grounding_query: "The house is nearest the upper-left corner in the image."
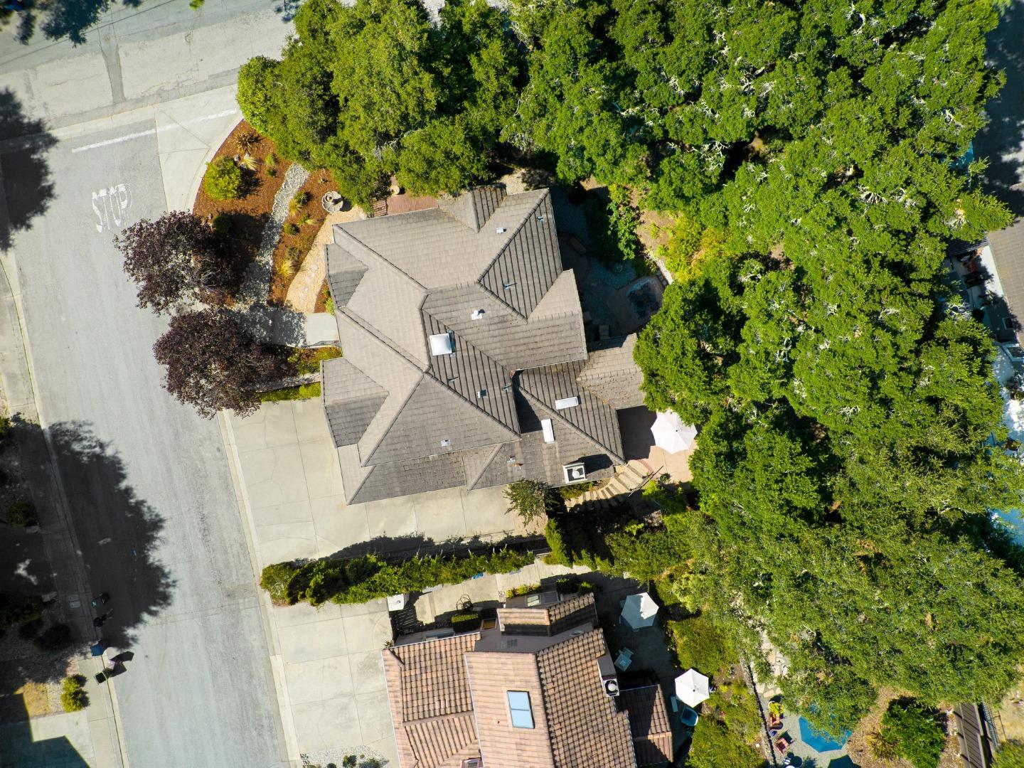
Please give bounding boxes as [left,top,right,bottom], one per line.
[320,183,649,507]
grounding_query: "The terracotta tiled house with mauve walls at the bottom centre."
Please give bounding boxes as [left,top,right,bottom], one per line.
[381,578,674,768]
